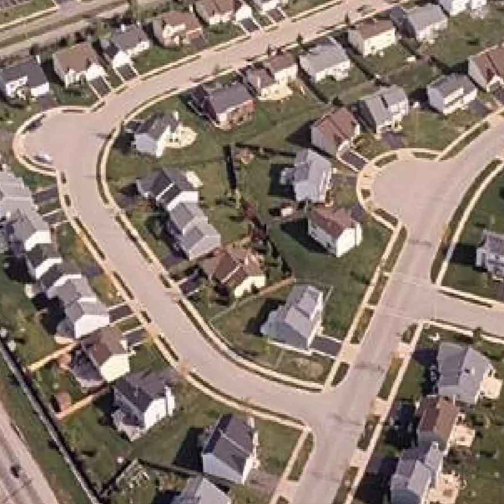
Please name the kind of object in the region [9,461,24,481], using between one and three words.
car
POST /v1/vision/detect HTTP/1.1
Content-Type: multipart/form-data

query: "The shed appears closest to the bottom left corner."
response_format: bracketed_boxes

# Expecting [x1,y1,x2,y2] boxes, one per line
[50,388,73,411]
